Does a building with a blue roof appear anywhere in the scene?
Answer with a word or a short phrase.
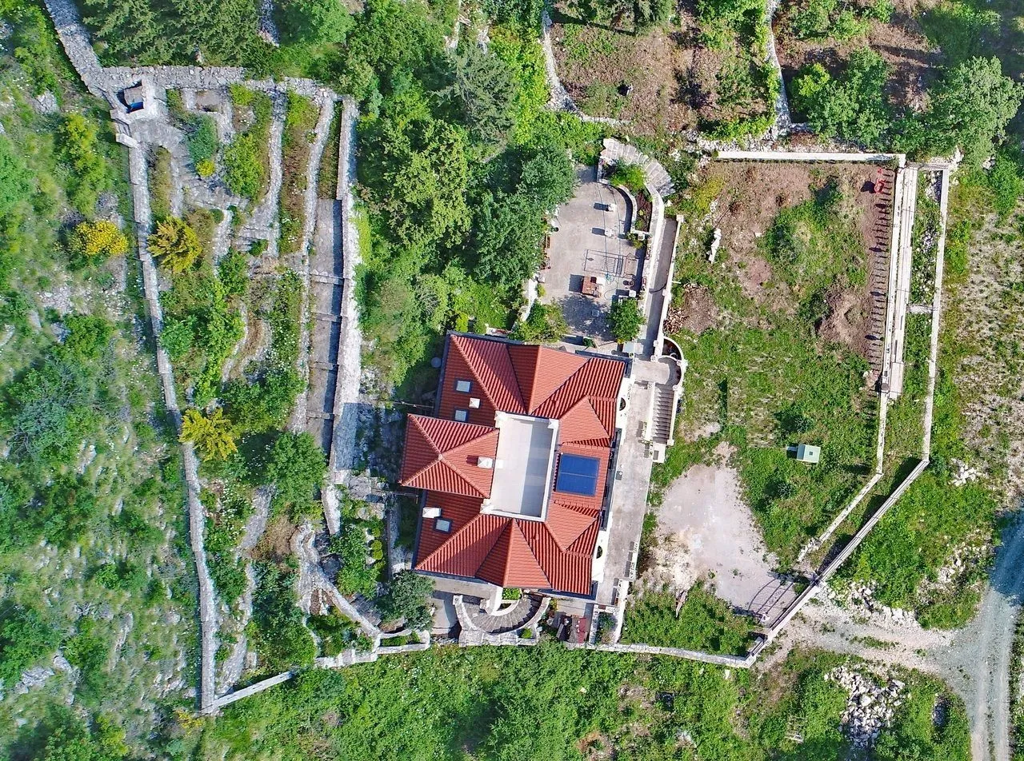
No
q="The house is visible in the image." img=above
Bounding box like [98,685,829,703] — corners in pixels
[397,328,638,609]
